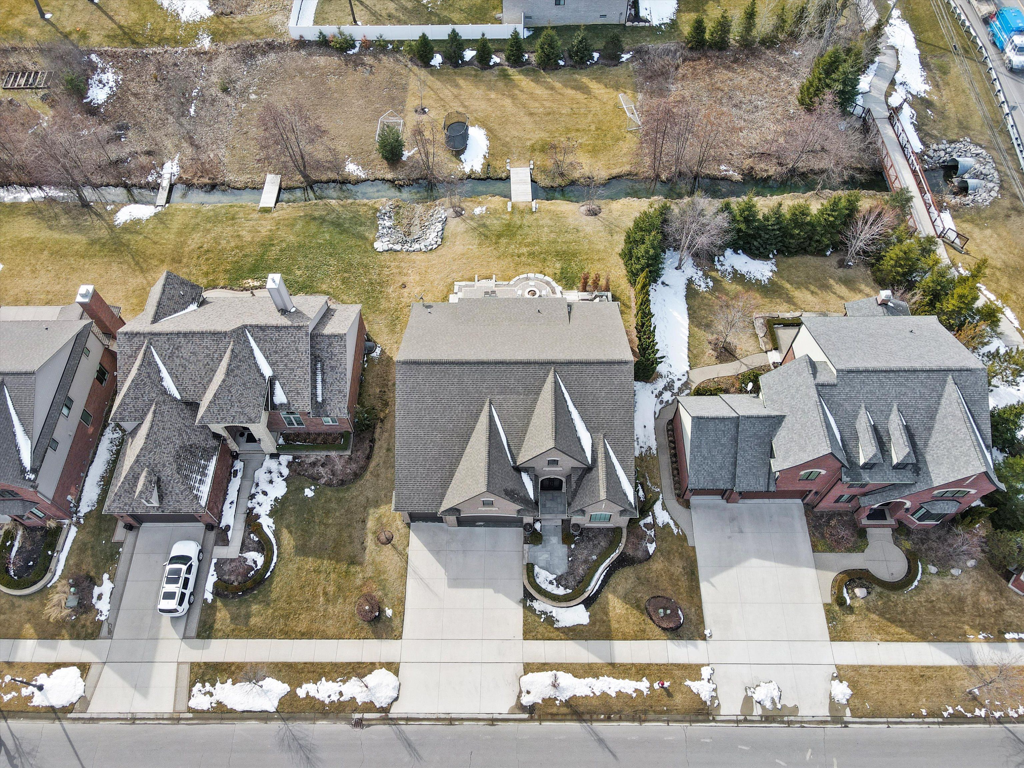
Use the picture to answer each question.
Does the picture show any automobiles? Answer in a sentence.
Yes, an automobile is visible in the scene.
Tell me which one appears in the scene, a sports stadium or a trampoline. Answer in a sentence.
This aerial view contains a trampoline.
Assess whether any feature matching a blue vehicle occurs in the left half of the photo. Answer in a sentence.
No, there's no blue vehicle to be seen in the left half of the photo.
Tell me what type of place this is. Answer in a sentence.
The picture captures a residential area.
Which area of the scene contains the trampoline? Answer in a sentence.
The trampoline sits in the top section of the image.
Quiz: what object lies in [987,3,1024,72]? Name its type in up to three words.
truck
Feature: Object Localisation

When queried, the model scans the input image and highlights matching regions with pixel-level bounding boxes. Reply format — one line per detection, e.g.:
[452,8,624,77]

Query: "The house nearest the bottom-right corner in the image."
[673,291,1006,530]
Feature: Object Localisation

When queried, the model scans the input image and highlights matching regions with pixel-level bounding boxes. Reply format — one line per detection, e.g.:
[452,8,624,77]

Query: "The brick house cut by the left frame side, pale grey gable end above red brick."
[0,286,129,523]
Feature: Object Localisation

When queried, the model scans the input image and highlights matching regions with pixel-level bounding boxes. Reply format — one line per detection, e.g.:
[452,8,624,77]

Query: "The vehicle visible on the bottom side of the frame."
[154,543,201,618]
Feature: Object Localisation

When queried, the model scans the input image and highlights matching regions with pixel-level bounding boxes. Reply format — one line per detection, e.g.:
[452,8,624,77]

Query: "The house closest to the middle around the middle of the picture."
[392,298,639,540]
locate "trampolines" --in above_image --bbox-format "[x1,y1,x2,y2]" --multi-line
[443,110,472,156]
